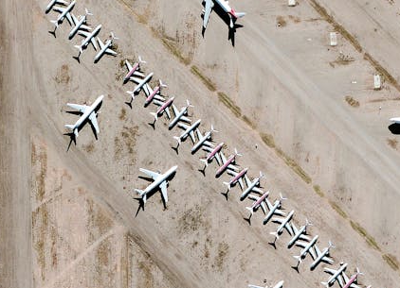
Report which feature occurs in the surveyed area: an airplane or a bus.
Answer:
airplane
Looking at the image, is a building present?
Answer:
No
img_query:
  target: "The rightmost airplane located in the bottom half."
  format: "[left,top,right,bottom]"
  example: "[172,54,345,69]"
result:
[343,268,365,288]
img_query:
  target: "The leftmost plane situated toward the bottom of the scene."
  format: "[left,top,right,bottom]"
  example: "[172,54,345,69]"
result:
[134,166,177,202]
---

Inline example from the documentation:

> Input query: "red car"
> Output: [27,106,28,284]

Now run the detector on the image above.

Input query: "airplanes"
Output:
[202,0,247,27]
[48,0,70,10]
[265,193,288,221]
[124,55,146,84]
[343,268,365,288]
[242,172,266,199]
[75,26,100,52]
[50,0,75,26]
[311,241,335,269]
[322,264,348,288]
[218,149,243,176]
[96,32,119,60]
[146,80,168,105]
[173,120,201,143]
[126,73,153,98]
[194,125,219,152]
[150,98,174,120]
[170,100,194,128]
[65,96,103,136]
[223,168,248,189]
[71,8,93,36]
[134,166,177,202]
[270,211,294,238]
[294,236,319,262]
[290,219,312,246]
[201,143,223,165]
[246,192,269,213]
